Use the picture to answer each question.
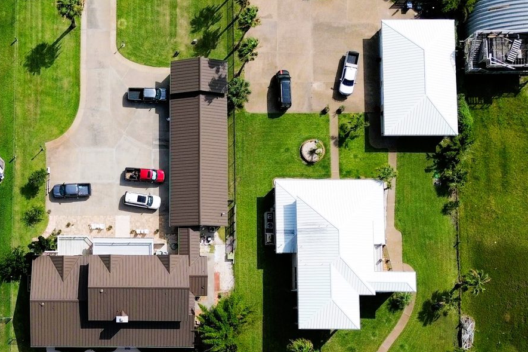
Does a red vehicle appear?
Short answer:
Yes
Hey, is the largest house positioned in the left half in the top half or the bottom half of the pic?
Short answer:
bottom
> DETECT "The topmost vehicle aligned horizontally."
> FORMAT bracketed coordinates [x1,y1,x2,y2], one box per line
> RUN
[128,85,168,103]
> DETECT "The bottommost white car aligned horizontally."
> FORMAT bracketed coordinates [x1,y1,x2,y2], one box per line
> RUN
[123,192,161,210]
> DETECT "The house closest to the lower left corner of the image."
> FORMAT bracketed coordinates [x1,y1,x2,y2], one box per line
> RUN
[30,226,207,348]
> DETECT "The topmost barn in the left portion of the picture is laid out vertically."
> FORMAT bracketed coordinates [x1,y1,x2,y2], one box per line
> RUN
[169,57,228,226]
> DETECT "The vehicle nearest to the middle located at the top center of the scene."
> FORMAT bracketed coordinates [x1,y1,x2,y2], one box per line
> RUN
[275,71,292,110]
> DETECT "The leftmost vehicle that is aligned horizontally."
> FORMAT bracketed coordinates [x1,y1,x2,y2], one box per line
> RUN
[51,182,92,200]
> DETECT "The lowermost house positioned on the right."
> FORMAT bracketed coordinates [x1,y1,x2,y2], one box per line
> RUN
[273,179,416,330]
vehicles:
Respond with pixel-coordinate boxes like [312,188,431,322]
[51,182,92,200]
[128,85,168,103]
[124,167,166,184]
[123,192,161,210]
[338,52,359,96]
[275,71,292,110]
